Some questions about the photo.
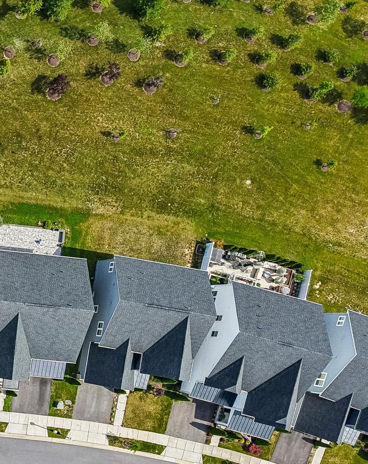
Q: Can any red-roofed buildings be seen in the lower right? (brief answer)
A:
No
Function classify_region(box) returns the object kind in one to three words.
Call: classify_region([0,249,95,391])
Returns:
house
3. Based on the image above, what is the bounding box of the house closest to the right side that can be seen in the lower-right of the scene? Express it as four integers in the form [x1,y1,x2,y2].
[290,311,368,446]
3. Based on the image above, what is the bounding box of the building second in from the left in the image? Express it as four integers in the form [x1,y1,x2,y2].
[72,255,217,391]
